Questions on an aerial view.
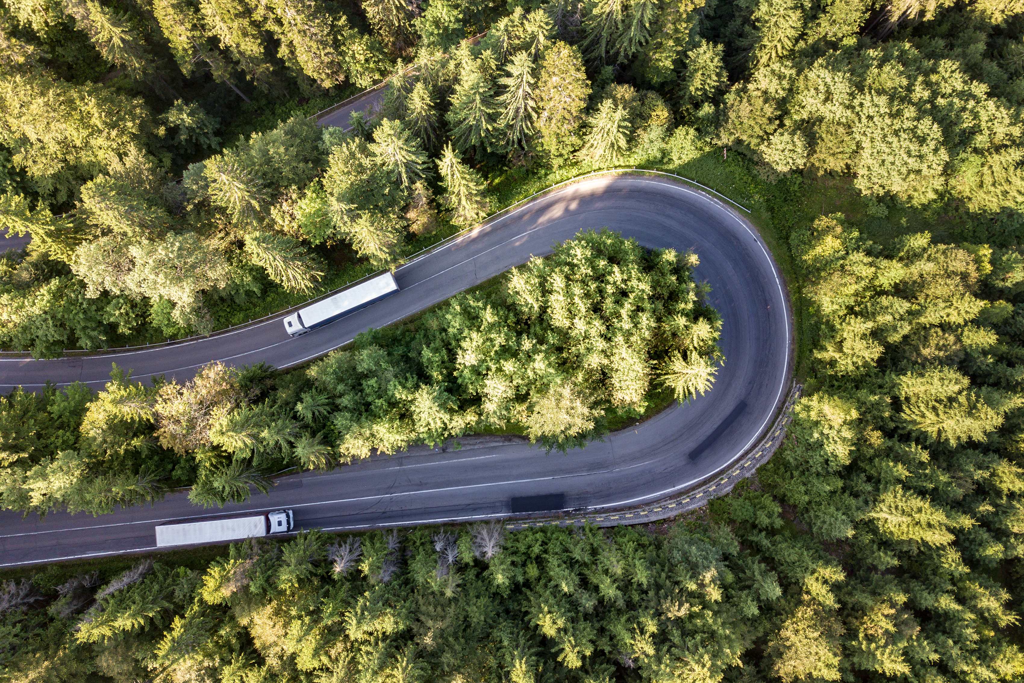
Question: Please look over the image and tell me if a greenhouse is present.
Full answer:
No, the frame has no greenhouse in it.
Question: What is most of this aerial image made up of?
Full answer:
The scene is dominated by trees.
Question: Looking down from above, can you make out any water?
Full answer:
No, the picture contains no water.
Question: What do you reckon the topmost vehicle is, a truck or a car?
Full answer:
In the photo, the topmost vehicle shows up as a truck.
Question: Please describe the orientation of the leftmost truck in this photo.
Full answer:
In this picture, the leftmost truck is oriented from side to side.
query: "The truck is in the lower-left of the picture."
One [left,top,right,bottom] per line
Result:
[153,507,304,548]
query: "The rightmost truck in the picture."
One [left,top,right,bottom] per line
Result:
[281,272,402,341]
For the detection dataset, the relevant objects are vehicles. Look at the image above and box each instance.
[281,272,402,341]
[153,507,304,548]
